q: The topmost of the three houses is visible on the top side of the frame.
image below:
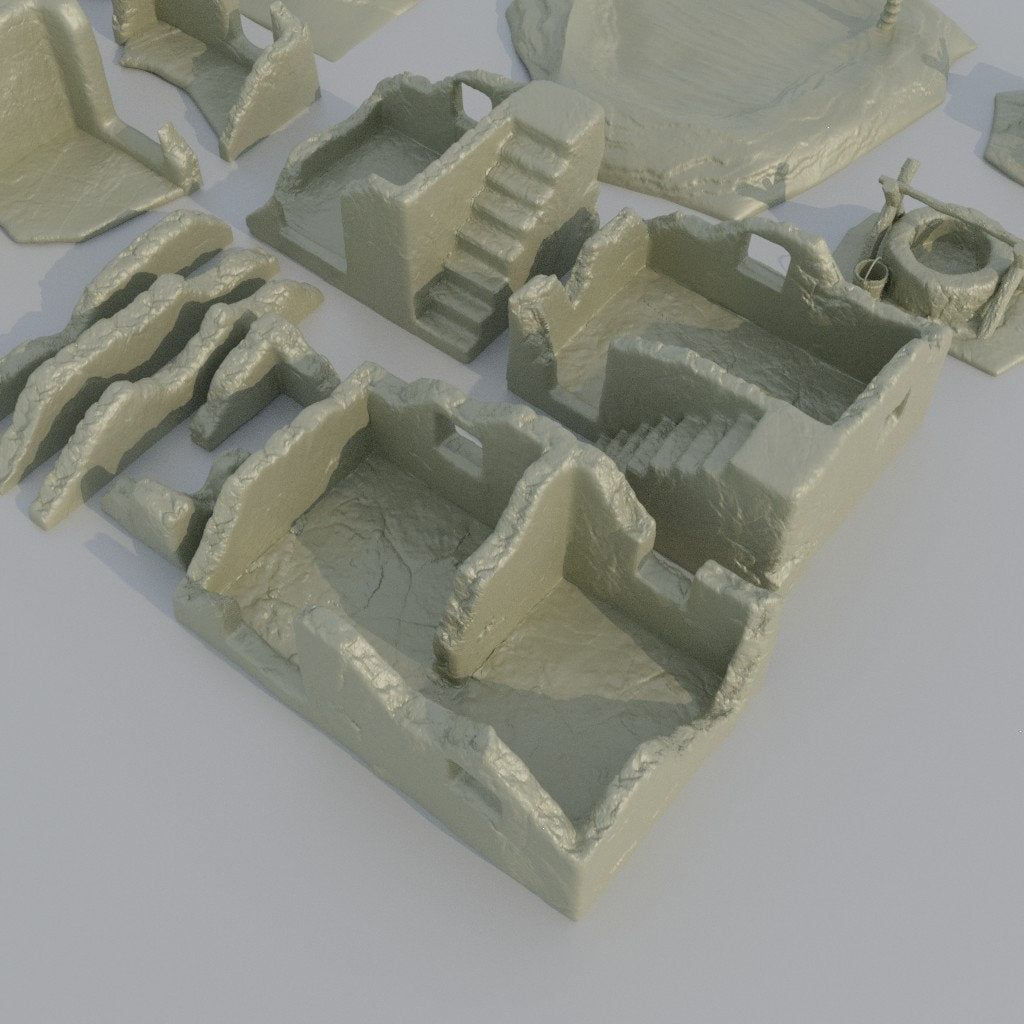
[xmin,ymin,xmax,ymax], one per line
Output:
[247,74,609,359]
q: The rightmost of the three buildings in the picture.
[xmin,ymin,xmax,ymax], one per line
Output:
[509,210,956,598]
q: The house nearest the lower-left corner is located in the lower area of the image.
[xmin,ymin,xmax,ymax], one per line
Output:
[179,362,784,918]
